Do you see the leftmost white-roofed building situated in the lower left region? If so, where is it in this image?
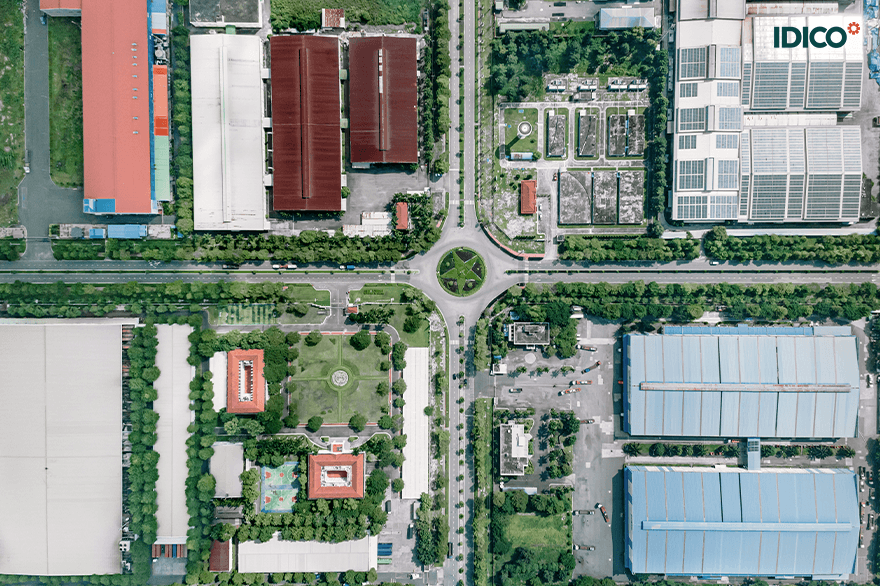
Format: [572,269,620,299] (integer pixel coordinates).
[0,325,125,575]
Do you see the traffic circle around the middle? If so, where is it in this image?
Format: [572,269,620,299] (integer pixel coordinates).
[437,247,487,297]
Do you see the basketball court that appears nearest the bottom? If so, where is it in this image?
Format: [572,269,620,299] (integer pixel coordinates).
[263,490,299,510]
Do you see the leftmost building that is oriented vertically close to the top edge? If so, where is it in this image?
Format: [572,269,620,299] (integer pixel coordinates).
[81,0,156,214]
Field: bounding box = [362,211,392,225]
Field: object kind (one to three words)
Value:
shed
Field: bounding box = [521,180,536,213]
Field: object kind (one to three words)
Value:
house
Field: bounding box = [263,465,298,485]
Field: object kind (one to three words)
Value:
basketball court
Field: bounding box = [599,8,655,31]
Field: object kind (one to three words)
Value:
building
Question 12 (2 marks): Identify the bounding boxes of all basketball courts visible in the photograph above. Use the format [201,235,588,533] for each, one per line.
[263,465,298,485]
[263,490,299,510]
